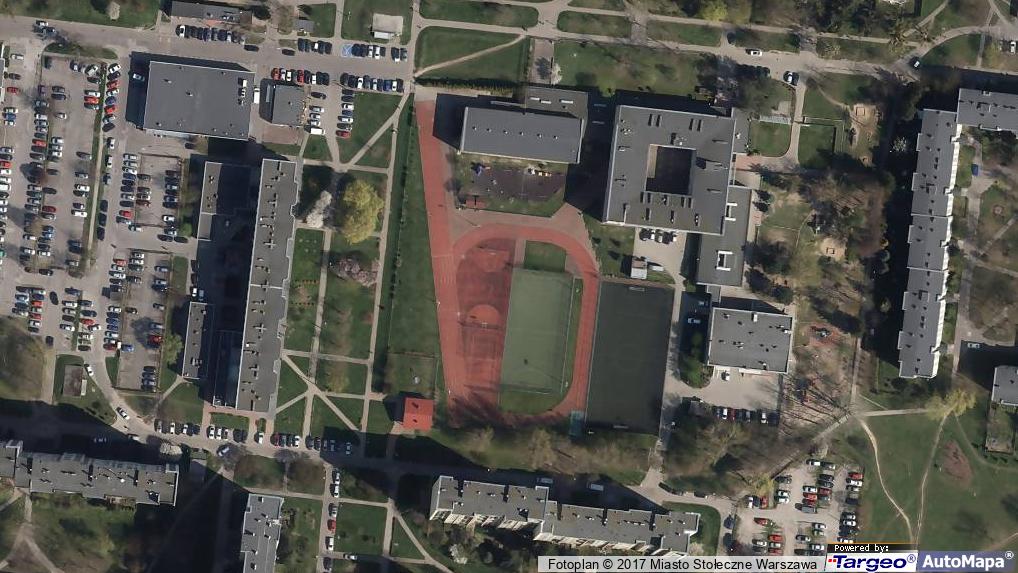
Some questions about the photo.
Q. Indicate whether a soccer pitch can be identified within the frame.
Yes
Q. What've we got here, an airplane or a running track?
running track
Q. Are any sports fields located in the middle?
Yes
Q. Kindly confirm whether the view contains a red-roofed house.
Yes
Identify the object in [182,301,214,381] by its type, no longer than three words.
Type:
building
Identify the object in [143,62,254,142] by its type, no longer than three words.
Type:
building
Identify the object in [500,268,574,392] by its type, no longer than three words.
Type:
sports field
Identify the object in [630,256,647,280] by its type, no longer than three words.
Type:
shed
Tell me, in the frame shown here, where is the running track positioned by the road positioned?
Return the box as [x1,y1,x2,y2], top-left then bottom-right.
[415,98,598,434]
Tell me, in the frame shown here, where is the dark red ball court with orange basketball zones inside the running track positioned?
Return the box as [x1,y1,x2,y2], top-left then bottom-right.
[456,239,517,412]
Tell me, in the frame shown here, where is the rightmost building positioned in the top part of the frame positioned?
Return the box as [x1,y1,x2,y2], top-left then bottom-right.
[955,88,1018,138]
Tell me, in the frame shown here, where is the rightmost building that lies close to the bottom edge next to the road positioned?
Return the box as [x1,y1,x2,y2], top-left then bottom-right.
[543,501,700,564]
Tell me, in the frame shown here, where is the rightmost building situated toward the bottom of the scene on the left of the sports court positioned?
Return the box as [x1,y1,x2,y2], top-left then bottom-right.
[402,398,434,432]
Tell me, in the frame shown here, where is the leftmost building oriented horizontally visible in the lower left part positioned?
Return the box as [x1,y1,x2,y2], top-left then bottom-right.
[0,441,185,513]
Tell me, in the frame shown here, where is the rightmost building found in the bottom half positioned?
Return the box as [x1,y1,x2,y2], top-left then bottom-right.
[987,367,1018,411]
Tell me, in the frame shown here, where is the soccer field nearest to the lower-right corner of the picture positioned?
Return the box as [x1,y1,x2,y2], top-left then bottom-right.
[587,281,674,435]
